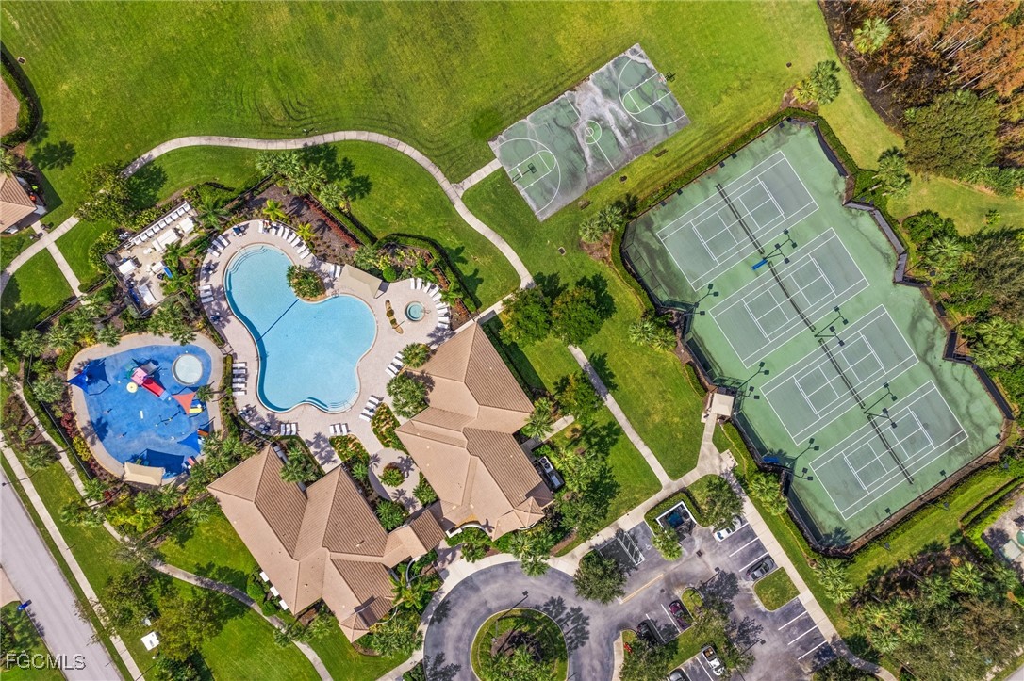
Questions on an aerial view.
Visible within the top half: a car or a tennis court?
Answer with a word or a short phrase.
tennis court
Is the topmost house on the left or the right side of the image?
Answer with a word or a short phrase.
left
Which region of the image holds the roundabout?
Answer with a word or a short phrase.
bottom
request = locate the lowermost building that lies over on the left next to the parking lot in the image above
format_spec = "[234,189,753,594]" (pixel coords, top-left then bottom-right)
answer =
[206,443,446,644]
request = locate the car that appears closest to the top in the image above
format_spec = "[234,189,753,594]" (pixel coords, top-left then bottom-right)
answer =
[714,516,744,540]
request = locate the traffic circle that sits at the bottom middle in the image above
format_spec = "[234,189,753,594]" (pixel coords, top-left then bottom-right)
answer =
[470,607,569,681]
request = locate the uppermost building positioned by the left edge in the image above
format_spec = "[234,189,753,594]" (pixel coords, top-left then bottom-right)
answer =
[0,172,45,241]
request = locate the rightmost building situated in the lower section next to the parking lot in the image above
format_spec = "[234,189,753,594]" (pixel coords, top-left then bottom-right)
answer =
[394,322,553,541]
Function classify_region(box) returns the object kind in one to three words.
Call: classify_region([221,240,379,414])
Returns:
swimming pool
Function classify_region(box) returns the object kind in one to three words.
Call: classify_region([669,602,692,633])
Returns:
car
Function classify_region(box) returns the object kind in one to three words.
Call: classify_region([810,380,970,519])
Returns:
tennis court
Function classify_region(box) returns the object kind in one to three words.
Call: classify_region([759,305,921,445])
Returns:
tennis court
